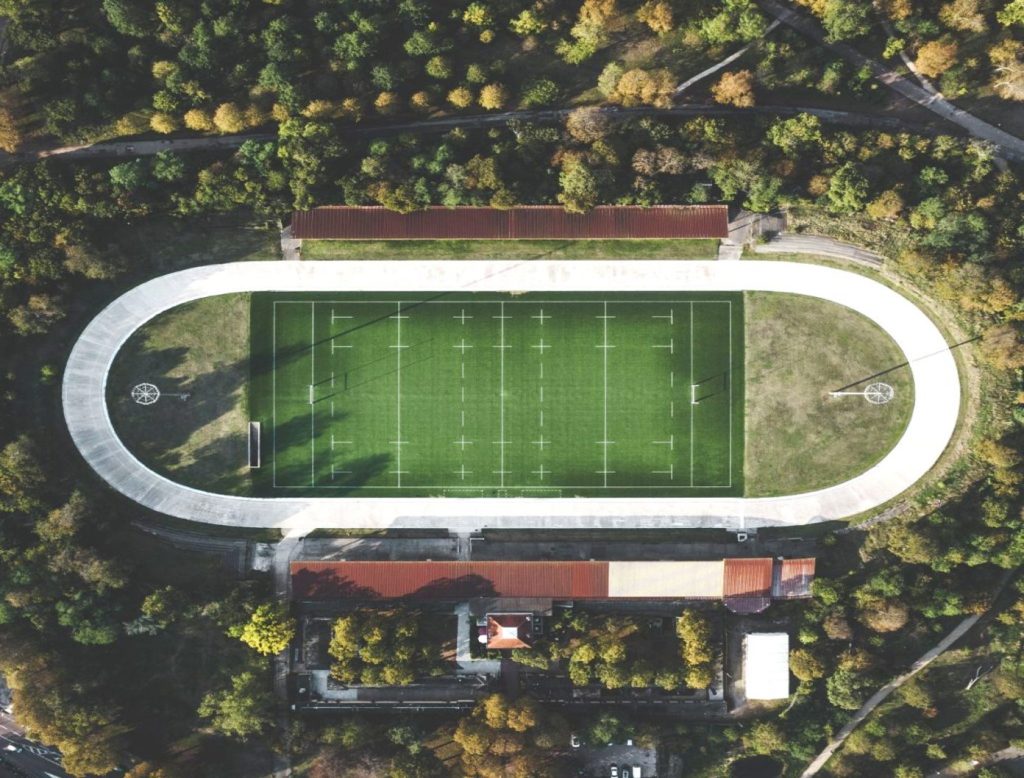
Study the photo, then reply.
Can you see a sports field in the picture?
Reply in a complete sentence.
Yes, looking at the shot, I can spot a sports field.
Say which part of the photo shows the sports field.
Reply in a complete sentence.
The sports field appears toward the center of the photo.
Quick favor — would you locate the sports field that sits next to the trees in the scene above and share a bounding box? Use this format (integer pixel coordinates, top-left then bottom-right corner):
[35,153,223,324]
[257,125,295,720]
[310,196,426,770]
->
[249,291,744,498]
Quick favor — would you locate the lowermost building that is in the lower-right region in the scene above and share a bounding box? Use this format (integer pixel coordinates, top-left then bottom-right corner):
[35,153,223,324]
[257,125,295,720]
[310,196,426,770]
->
[742,629,789,698]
